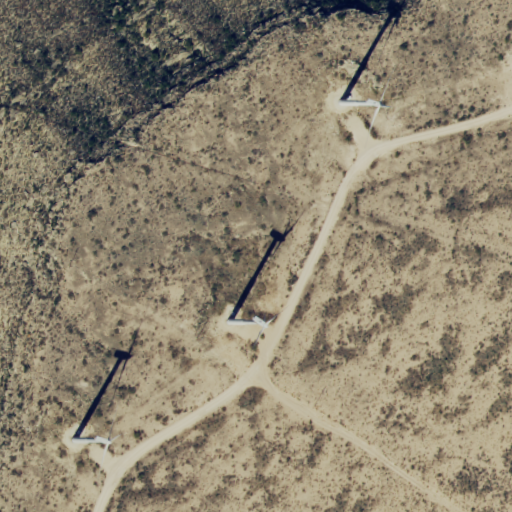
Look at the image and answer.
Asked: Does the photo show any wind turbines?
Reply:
Yes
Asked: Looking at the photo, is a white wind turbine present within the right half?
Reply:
Yes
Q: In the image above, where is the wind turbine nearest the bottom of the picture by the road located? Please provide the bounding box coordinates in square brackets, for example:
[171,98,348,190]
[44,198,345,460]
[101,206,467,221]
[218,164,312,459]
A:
[69,422,120,473]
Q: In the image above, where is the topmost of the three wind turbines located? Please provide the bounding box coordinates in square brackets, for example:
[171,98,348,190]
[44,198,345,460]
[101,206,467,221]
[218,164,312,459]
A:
[336,78,388,132]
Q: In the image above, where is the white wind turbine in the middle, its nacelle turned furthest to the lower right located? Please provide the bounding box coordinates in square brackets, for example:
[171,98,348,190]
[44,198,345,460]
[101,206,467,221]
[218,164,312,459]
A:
[224,308,281,352]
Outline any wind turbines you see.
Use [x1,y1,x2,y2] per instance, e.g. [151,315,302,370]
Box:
[224,308,281,352]
[336,78,388,132]
[69,422,120,473]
